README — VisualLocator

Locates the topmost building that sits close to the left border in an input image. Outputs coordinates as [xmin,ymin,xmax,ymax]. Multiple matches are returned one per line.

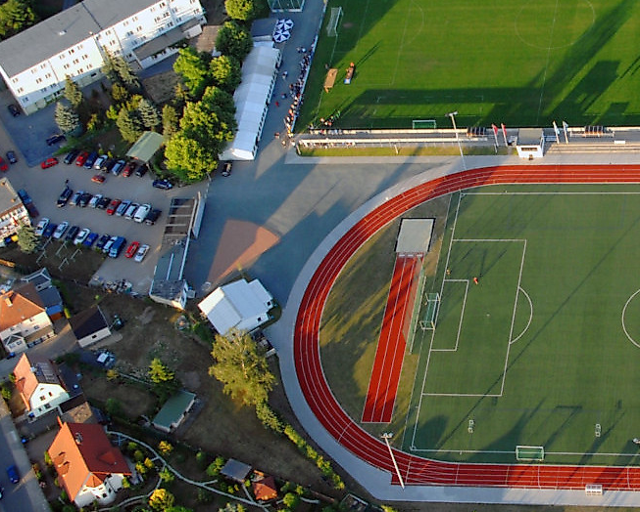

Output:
[0,0,206,116]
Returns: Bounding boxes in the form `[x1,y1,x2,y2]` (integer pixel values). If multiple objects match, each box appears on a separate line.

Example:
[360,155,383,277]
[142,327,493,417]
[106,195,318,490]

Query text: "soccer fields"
[295,0,640,136]
[399,183,640,466]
